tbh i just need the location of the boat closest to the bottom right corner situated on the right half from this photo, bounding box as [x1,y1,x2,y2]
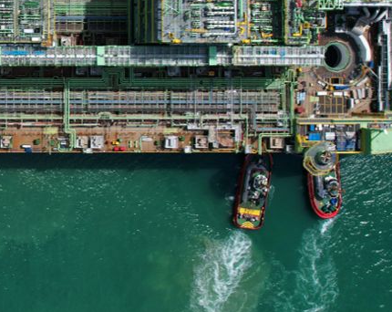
[302,159,343,221]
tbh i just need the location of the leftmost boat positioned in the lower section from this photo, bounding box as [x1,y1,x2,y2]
[228,153,272,233]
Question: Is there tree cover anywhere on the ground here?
No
